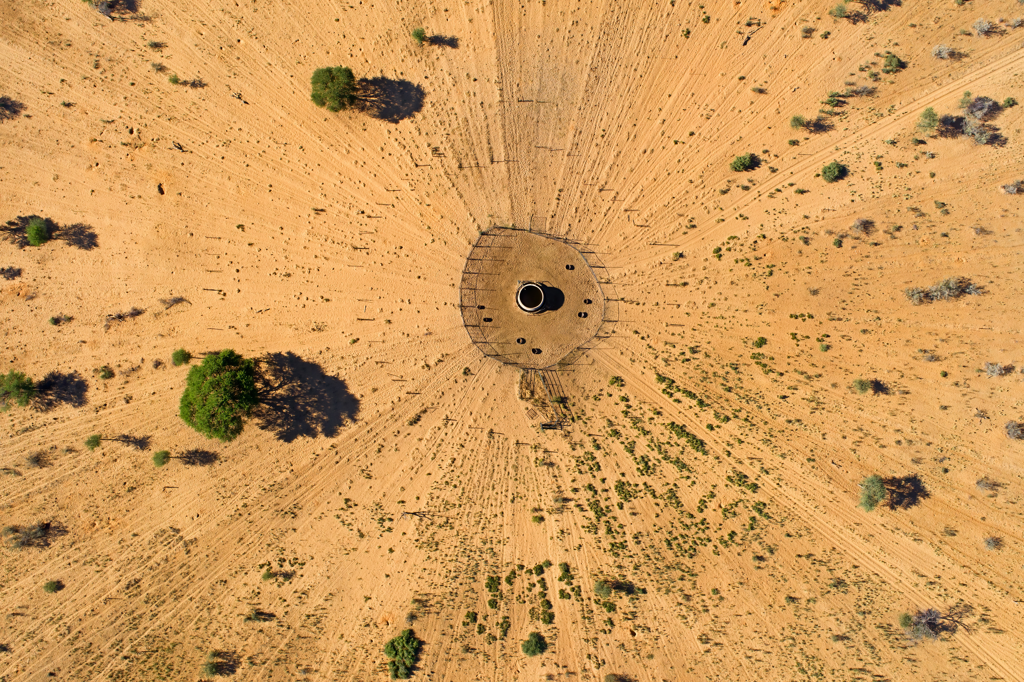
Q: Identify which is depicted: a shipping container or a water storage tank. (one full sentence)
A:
Of the two, only a water storage tank appears.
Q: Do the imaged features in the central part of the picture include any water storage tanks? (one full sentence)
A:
Yes, the scene does show a water storage tank in the central part of the picture.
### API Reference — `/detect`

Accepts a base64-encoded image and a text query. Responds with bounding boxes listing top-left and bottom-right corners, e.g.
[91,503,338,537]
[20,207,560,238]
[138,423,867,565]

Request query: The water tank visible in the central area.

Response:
[515,278,547,313]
